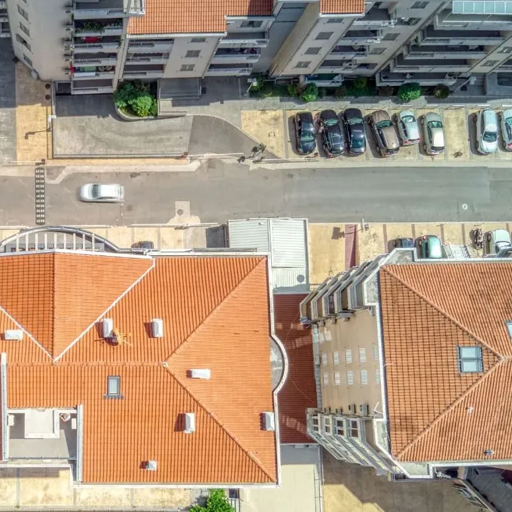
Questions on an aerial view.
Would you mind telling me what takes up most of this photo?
buildings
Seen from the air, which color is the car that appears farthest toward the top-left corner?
white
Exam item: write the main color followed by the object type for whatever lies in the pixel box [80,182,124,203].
white car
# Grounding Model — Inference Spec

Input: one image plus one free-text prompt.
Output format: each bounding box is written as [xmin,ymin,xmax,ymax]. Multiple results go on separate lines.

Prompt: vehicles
[418,233,443,257]
[339,109,368,156]
[475,111,501,154]
[80,182,124,203]
[478,232,488,251]
[498,110,512,152]
[368,111,399,156]
[419,114,448,156]
[393,111,421,147]
[317,111,345,156]
[491,229,512,252]
[293,112,318,156]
